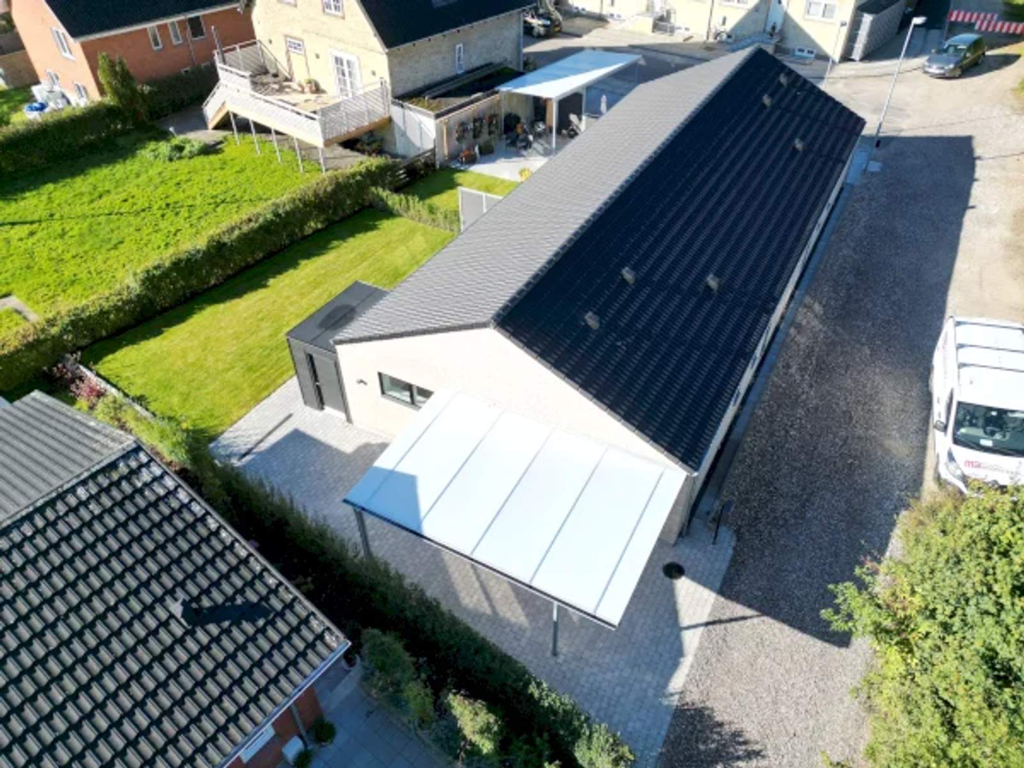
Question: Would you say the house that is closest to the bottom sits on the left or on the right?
left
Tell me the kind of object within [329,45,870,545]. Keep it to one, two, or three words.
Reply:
house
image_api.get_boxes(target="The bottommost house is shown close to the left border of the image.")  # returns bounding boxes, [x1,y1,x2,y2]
[0,392,350,768]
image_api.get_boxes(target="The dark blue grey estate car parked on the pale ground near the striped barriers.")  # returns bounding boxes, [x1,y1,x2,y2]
[929,30,988,75]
